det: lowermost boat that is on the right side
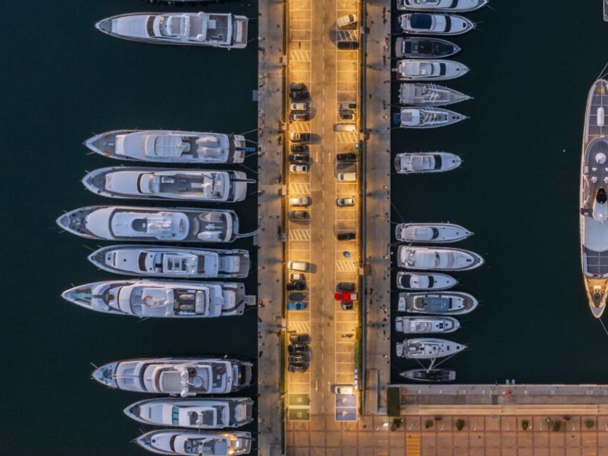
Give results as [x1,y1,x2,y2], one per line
[398,369,455,381]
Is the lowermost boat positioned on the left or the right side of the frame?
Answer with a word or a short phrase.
left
